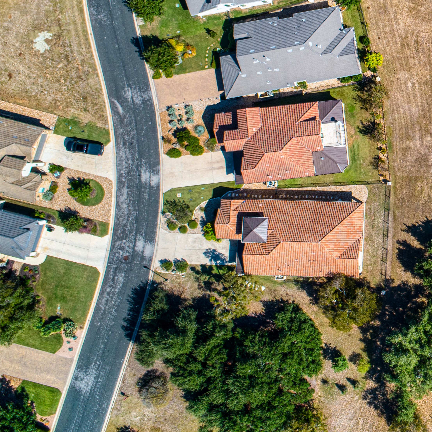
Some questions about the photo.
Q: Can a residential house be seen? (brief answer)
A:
Yes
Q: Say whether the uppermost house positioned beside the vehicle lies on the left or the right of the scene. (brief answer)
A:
left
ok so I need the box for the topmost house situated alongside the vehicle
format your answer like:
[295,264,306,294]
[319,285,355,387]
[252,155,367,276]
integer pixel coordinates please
[0,116,53,203]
